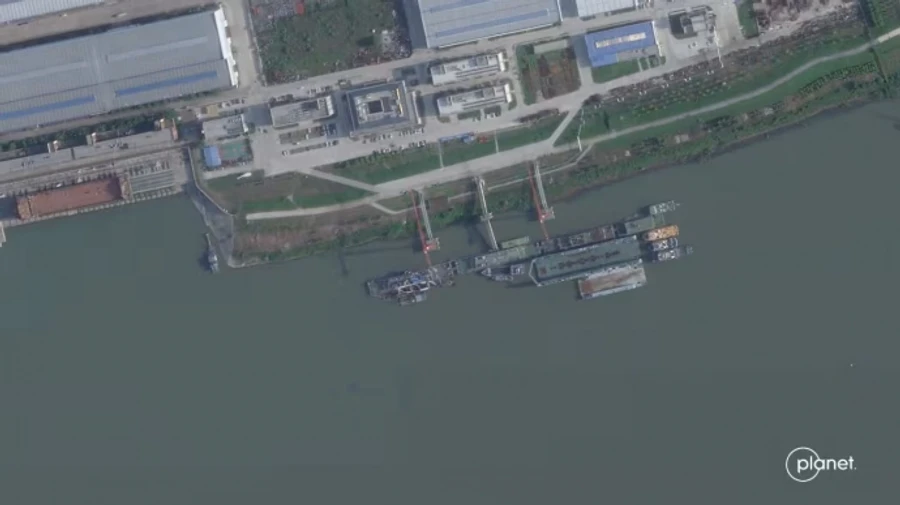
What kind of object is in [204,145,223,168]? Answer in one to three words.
shed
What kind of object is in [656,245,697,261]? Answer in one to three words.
boat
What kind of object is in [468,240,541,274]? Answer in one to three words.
ship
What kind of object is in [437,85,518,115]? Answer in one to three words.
building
